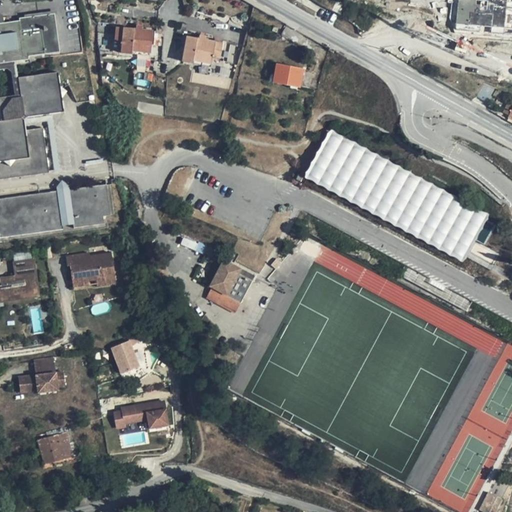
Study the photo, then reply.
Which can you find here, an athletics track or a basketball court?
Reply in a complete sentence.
There is an athletics track in the scene.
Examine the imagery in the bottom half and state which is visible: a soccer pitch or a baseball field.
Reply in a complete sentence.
You can see a soccer pitch in the bottom half.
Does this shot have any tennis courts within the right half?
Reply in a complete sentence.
Yes, a tennis court shows up within the right half.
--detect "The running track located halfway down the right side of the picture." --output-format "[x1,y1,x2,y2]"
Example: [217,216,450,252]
[314,247,504,358]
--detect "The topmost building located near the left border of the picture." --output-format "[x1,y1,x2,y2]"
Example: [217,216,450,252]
[0,14,60,62]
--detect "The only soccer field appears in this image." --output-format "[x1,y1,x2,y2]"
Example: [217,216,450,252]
[240,262,475,483]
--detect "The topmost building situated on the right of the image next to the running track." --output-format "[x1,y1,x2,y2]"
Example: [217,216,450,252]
[306,130,489,262]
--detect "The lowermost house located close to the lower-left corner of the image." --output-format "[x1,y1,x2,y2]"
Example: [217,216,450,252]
[38,430,76,468]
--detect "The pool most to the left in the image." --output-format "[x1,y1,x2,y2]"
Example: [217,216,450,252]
[30,306,44,334]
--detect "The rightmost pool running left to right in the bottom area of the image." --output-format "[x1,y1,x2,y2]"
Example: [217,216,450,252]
[120,432,149,448]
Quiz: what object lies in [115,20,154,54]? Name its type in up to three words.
house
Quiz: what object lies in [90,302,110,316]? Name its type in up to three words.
swimming pool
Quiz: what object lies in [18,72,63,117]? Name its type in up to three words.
building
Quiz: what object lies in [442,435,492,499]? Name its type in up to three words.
tennis court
